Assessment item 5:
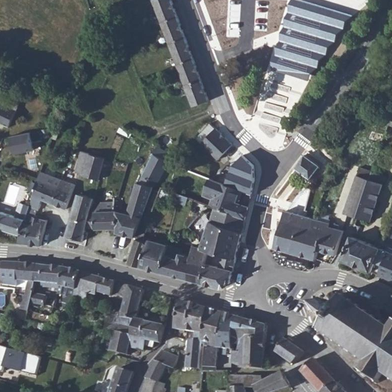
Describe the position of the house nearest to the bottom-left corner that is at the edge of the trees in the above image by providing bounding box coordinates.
[0,346,38,374]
